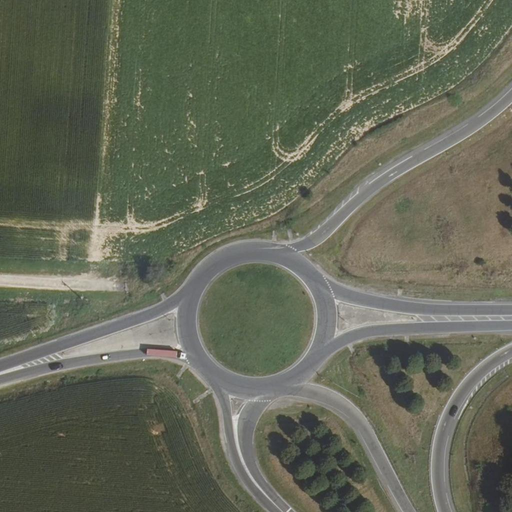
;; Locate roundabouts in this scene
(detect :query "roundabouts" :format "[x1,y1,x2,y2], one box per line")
[176,239,336,400]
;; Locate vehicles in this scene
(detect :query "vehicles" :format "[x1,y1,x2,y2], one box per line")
[100,354,108,360]
[49,363,62,369]
[450,405,458,416]
[146,349,186,358]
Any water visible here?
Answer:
No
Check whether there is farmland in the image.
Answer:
Yes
